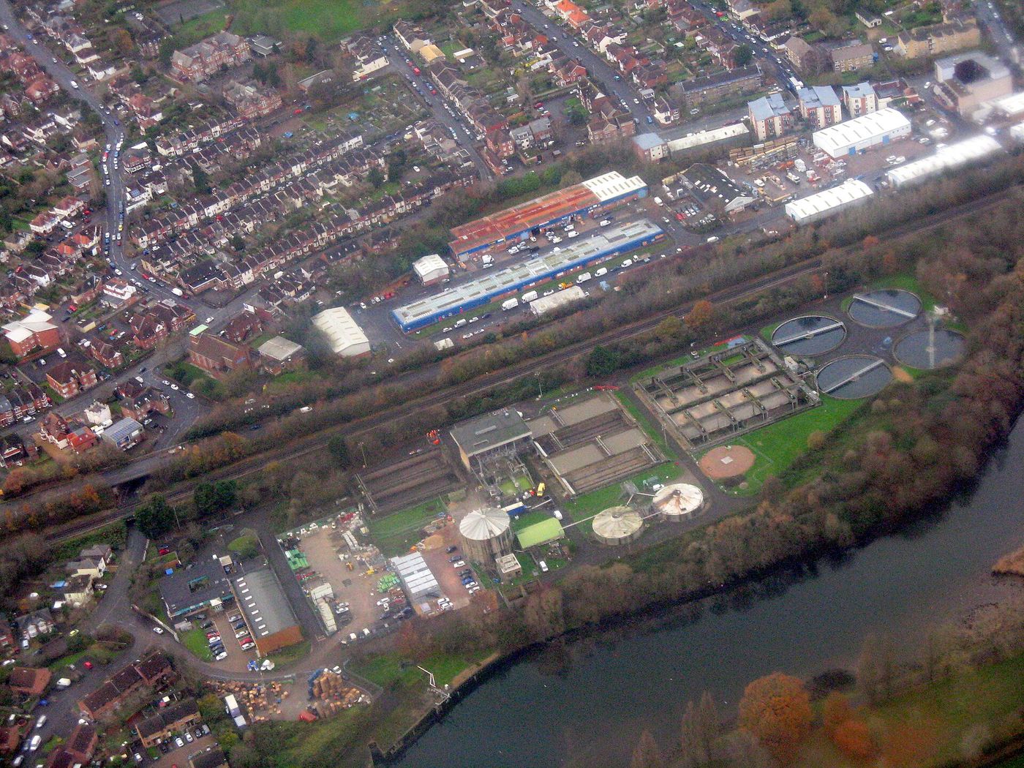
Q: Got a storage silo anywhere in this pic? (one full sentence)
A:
Yes, a storage silo is visible in the scene.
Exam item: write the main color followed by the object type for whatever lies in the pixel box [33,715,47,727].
white vehicle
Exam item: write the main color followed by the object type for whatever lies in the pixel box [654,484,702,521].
white storage tank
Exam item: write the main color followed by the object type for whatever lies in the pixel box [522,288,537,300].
white vehicle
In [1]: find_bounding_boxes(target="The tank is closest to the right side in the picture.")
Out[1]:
[893,326,969,373]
